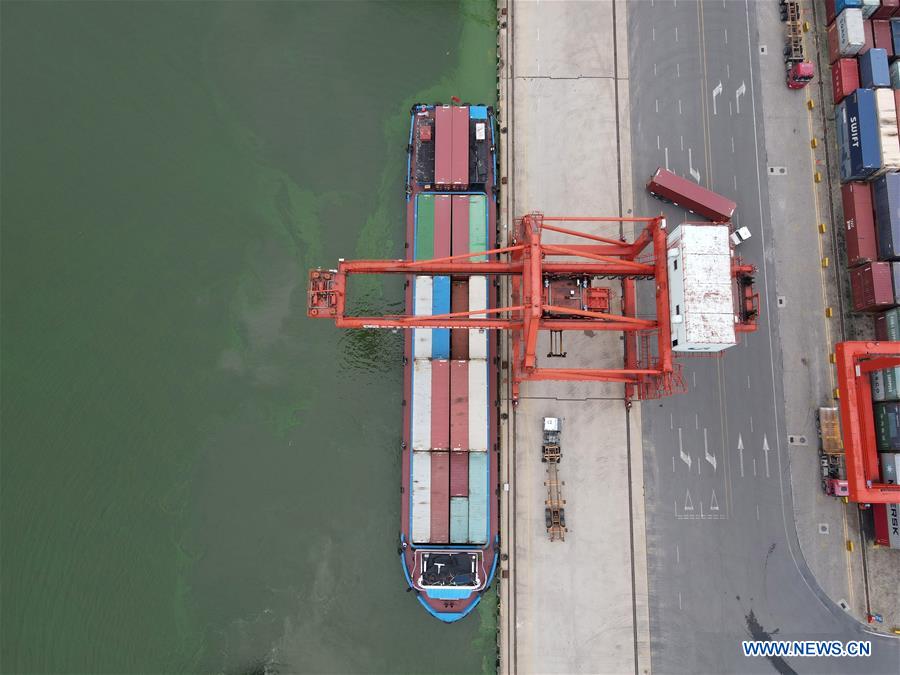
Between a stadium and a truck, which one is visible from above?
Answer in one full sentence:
This aerial view contains a truck.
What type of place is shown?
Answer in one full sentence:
The area seen from above is a port.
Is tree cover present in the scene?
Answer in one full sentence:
No, no tree cover is visible.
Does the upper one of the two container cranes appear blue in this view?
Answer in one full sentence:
No, the upper one of the two container cranes is red.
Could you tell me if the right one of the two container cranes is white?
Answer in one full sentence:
No, the color of the right one of the two container cranes is red.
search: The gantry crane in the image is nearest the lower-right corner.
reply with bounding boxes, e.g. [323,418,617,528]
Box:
[834,341,900,511]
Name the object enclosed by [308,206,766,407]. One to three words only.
container crane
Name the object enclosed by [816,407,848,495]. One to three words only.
truck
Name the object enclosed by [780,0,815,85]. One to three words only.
truck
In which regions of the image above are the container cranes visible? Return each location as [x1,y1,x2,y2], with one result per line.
[834,341,900,511]
[308,206,766,407]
